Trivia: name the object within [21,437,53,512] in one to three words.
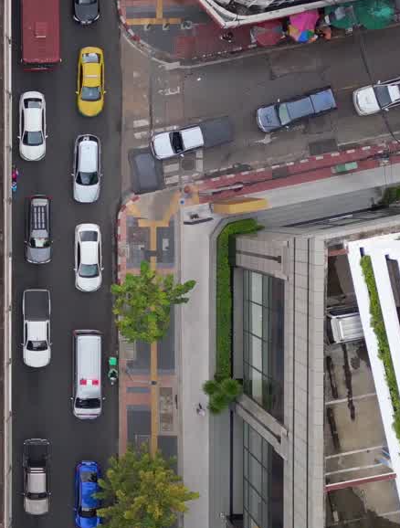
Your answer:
truck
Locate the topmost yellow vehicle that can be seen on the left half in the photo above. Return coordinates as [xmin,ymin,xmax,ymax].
[77,47,107,117]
